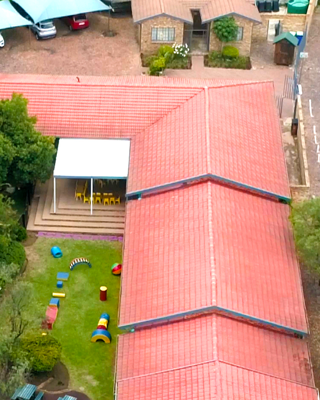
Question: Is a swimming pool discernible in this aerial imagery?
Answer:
No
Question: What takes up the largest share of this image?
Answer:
buildings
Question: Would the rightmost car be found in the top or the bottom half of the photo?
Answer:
top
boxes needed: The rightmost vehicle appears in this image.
[65,11,92,31]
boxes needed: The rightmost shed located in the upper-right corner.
[273,26,301,68]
